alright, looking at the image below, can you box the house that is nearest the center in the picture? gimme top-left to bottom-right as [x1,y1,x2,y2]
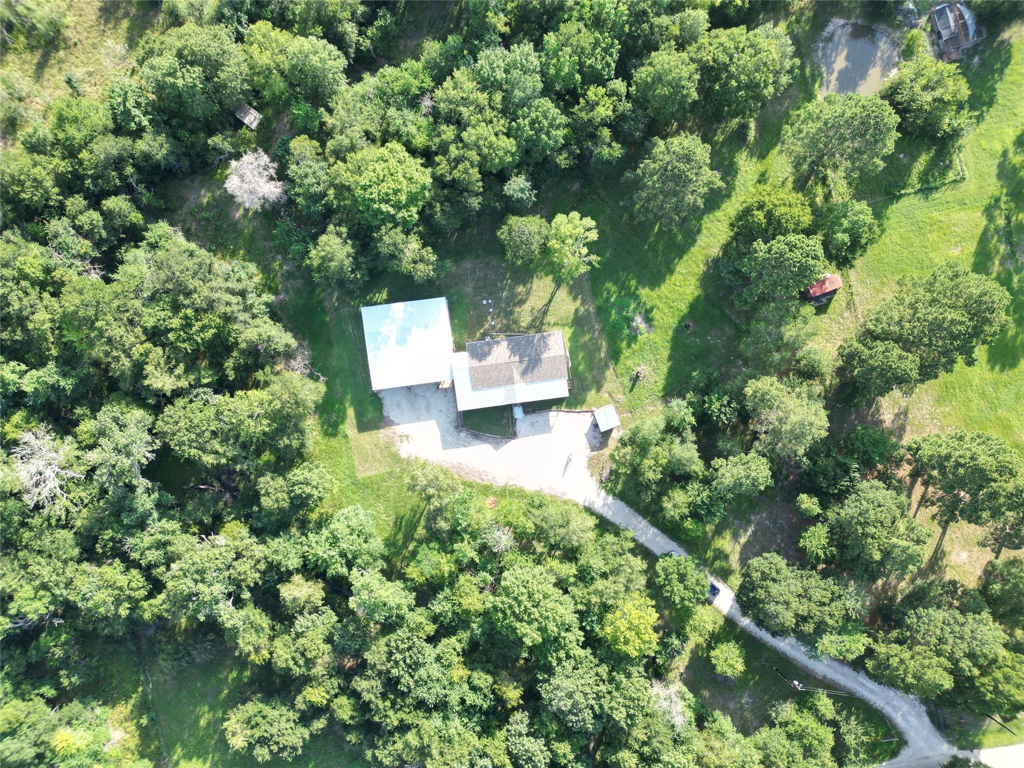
[452,331,569,411]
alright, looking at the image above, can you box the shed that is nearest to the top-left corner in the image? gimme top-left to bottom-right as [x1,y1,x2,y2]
[234,104,267,133]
